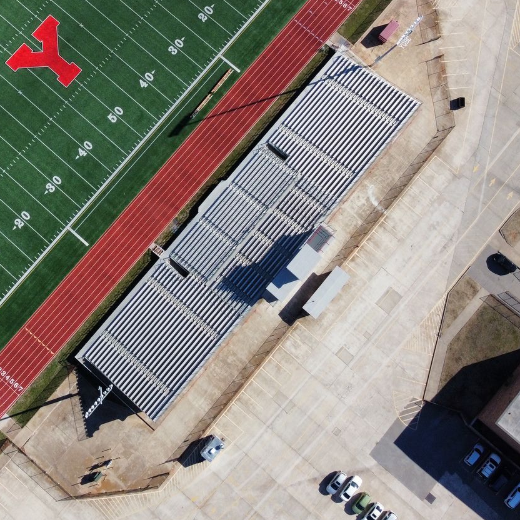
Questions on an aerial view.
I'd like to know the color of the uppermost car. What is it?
black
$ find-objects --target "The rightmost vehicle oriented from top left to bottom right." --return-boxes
[493,252,520,275]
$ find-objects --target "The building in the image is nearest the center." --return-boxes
[302,266,350,319]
